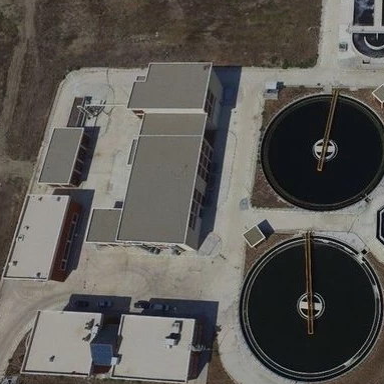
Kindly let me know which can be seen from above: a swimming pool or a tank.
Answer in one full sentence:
This aerial view contains a tank.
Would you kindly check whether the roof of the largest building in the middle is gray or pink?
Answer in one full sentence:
The color of the roof of the largest building in the middle is gray.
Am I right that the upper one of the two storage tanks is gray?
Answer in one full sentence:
No, the upper one of the two storage tanks is black.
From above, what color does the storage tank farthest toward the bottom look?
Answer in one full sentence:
The storage tank farthest toward the bottom is black.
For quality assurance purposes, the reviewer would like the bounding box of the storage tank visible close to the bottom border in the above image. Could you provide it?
[239,232,384,384]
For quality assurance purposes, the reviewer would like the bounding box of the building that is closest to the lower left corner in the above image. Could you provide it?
[22,311,117,377]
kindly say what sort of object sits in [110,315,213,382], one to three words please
building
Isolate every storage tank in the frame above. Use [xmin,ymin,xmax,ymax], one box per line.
[260,87,384,213]
[239,232,384,384]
